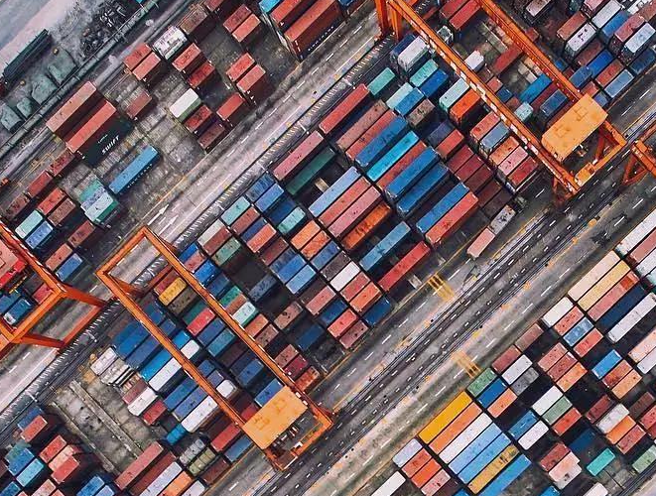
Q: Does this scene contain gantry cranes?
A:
Yes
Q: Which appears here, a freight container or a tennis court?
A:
freight container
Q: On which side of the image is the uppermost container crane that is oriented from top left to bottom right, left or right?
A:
right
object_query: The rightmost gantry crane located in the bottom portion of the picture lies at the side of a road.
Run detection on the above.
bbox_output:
[93,225,341,474]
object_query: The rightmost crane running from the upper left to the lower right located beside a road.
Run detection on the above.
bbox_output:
[385,0,628,217]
